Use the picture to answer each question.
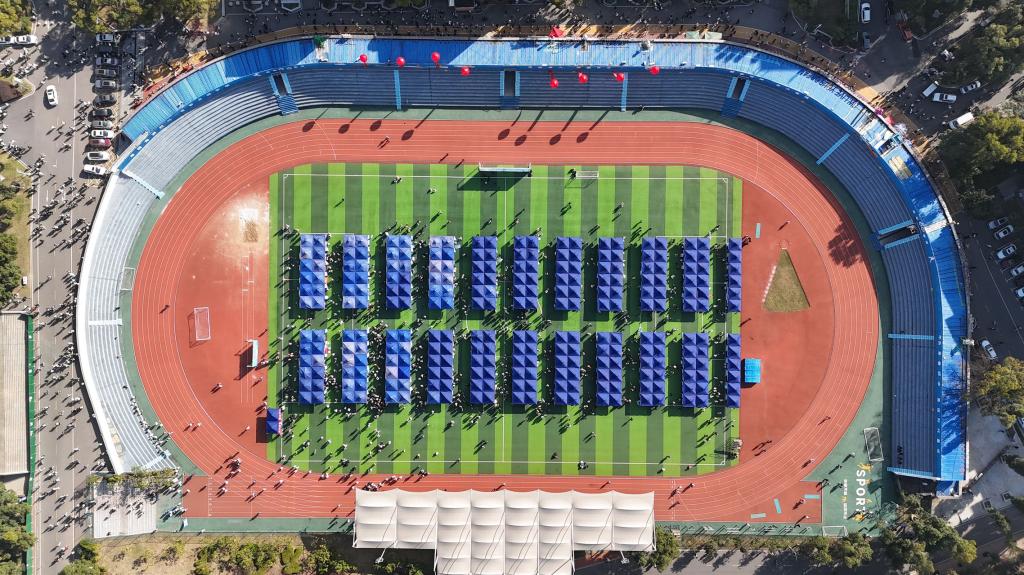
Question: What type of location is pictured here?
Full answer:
This image shows a sports ground.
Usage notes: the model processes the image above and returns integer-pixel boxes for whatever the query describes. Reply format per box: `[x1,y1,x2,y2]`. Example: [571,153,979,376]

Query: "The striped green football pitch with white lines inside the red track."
[269,163,743,476]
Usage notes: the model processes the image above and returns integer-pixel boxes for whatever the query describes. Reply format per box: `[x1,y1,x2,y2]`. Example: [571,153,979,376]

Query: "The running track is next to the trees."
[130,119,879,522]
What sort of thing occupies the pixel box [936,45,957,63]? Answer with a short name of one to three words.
vehicle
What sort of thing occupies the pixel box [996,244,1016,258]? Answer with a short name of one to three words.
car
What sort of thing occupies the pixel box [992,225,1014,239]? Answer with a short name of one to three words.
car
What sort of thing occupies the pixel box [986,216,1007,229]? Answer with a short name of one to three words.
vehicle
